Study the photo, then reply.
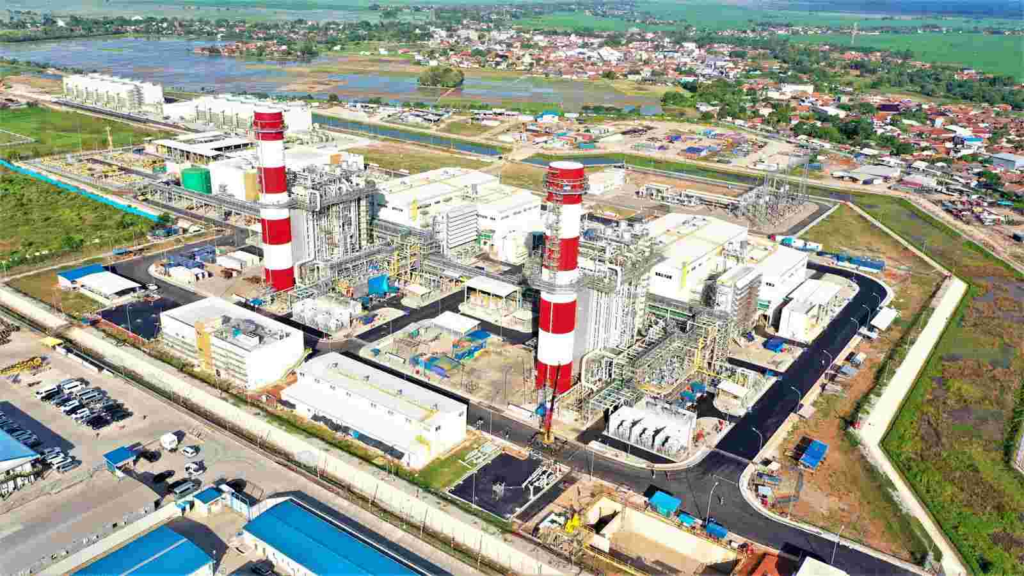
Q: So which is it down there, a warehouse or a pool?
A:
warehouse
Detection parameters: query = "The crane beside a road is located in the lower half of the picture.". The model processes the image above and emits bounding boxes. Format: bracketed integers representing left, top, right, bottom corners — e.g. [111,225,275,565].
[528,365,558,452]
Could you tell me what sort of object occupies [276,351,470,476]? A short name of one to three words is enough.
warehouse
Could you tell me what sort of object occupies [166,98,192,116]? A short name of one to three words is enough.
building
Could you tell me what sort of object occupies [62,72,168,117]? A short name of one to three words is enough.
cooling tower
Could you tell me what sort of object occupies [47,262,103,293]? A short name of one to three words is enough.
shed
